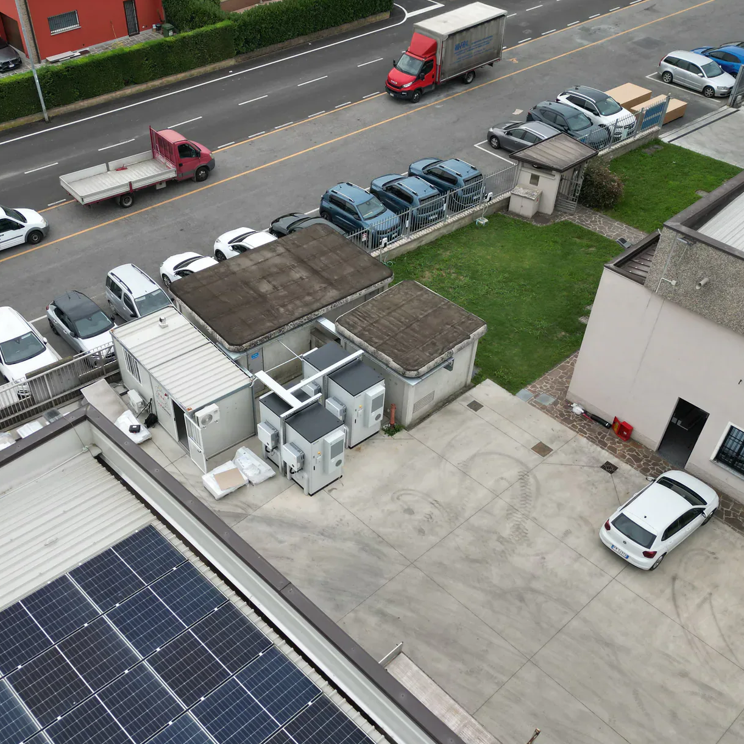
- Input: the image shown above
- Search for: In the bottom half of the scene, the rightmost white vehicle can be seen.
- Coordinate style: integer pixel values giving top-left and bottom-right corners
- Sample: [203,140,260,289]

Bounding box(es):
[594,469,723,574]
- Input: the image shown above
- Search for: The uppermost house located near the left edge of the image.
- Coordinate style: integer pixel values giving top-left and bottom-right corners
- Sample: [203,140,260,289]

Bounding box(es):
[0,0,130,64]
